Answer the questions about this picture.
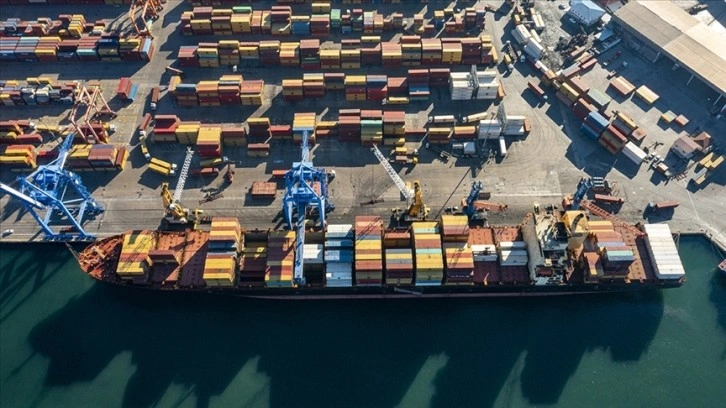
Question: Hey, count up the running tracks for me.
0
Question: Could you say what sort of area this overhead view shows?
port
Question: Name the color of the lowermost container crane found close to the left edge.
blue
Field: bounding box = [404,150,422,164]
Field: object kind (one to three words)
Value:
work vehicle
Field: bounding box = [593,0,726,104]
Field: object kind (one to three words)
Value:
building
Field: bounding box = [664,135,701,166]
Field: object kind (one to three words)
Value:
building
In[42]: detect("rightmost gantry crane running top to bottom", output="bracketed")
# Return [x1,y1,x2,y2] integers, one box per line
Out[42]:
[281,136,333,285]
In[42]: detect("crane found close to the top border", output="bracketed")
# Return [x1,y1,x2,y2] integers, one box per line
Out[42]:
[125,0,160,37]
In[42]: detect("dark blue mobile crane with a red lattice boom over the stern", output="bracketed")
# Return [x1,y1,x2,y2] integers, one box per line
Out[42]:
[557,180,647,248]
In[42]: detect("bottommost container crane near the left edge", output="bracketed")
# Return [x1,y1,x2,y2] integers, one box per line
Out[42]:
[0,131,103,237]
